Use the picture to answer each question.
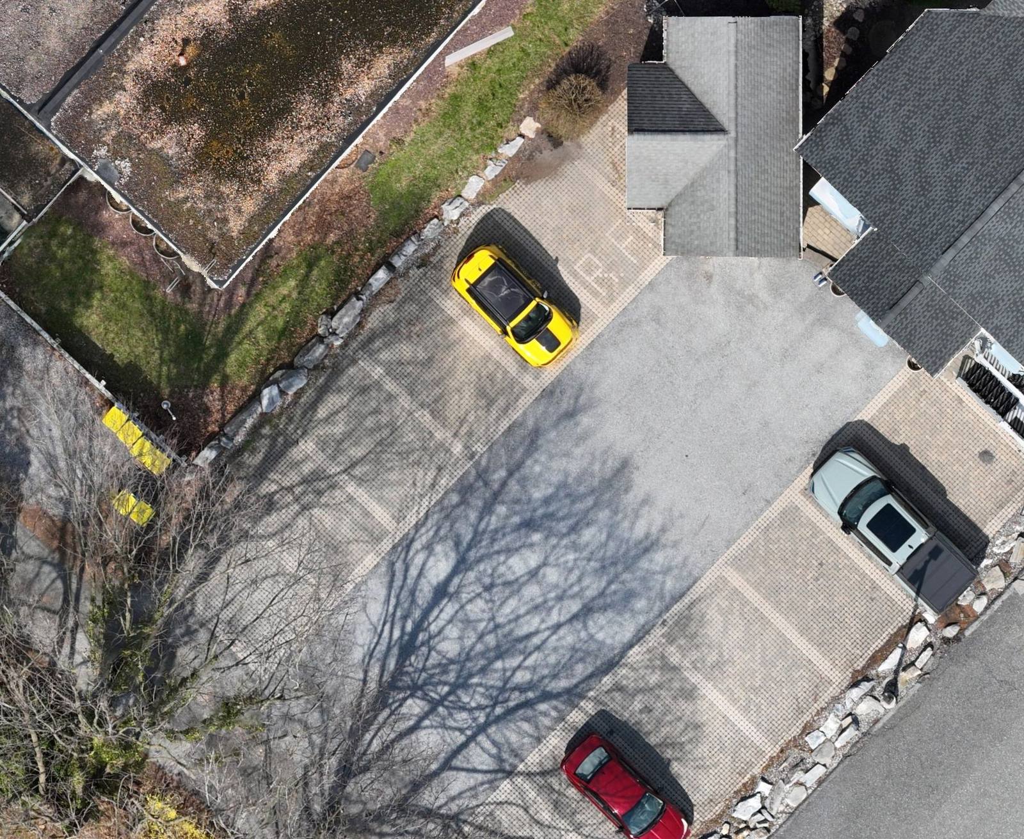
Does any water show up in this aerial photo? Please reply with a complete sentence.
No, there is no water in the image.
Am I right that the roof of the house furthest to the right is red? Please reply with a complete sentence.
No, from above the roof of the house furthest to the right looks gray.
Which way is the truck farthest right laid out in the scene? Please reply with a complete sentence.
Seen from above, the truck farthest right lies diagonally.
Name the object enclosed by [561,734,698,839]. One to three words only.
car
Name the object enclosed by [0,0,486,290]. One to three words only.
building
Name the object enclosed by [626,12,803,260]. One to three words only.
building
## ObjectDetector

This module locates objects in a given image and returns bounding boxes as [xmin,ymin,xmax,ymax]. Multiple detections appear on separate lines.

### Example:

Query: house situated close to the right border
[794,0,1024,379]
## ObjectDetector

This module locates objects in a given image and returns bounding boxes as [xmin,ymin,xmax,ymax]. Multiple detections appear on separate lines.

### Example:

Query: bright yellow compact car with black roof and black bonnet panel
[451,238,579,371]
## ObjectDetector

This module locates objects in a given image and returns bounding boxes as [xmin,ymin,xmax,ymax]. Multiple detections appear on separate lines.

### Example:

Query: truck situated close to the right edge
[808,441,984,617]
